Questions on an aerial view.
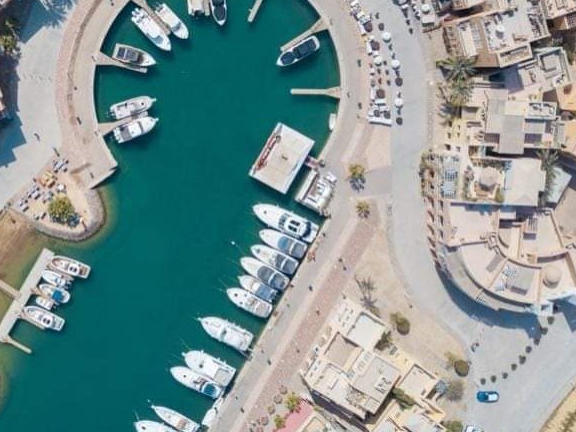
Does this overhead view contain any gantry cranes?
No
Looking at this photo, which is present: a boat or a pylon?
boat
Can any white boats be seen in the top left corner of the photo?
Yes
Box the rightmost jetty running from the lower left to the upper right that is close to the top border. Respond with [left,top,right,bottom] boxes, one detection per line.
[280,17,328,51]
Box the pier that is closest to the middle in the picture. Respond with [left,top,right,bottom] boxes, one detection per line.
[294,169,332,214]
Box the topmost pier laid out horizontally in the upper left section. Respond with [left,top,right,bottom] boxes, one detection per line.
[96,51,147,73]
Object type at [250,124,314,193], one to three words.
building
